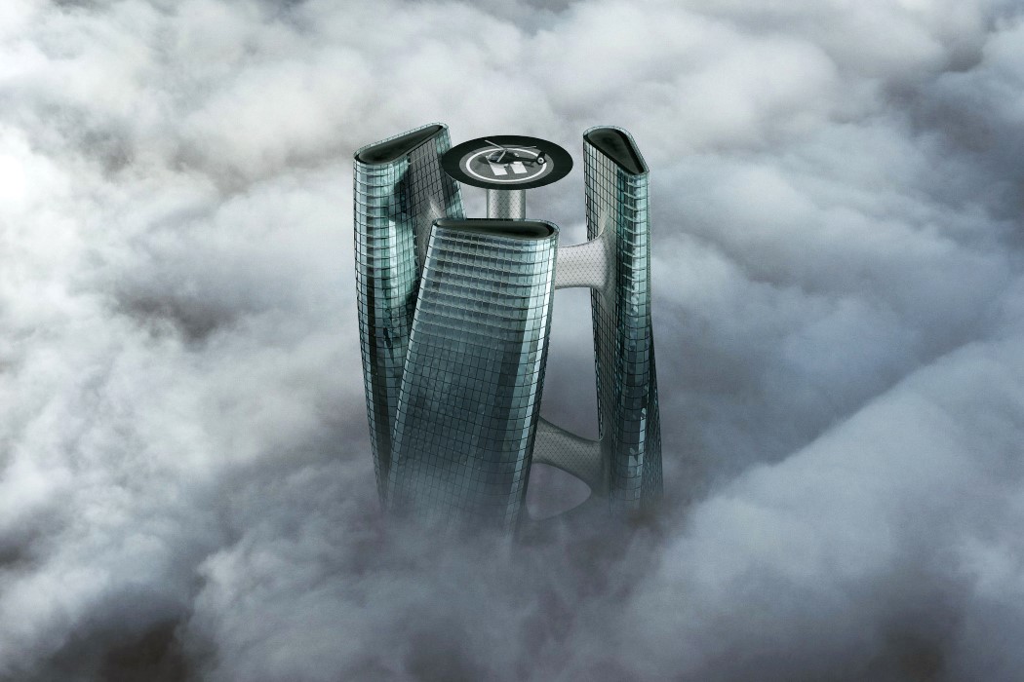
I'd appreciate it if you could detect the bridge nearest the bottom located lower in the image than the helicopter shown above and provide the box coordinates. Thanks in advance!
[485,411,615,612]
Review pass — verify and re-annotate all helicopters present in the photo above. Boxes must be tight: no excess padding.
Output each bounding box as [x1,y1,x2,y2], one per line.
[484,140,547,170]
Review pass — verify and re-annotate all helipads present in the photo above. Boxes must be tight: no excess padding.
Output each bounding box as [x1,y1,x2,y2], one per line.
[440,135,574,218]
